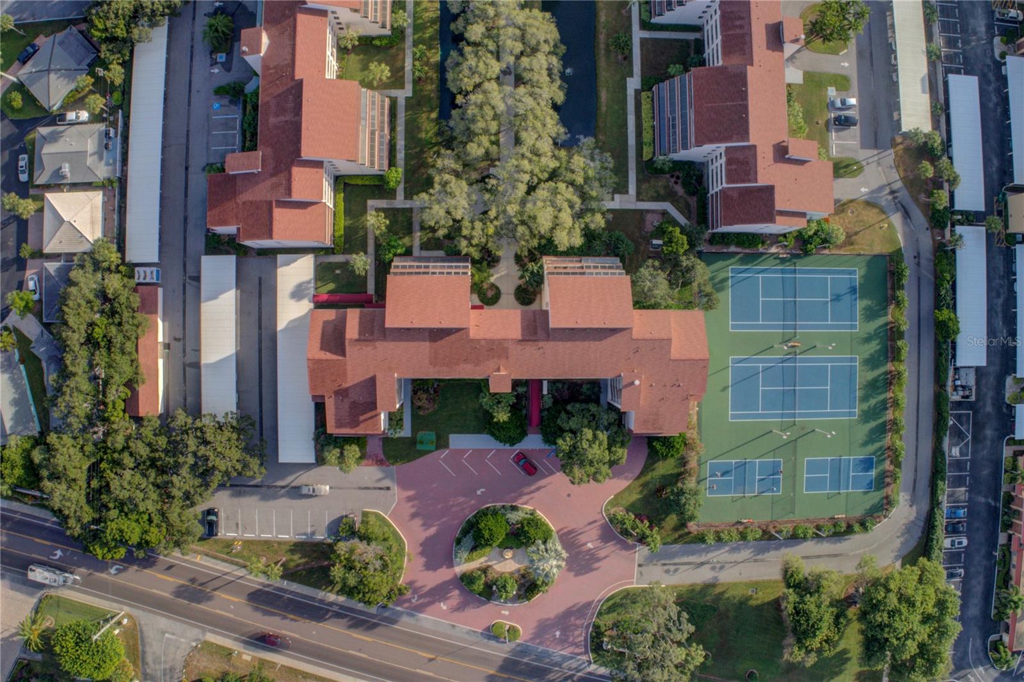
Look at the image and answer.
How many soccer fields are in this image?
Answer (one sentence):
The photo contains no soccer fields.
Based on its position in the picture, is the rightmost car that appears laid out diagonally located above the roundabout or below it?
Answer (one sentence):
Looking at the photo, you'll find the rightmost car that appears laid out diagonally above the roundabout.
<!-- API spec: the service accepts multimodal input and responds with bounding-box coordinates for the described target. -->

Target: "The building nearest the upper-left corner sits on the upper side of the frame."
[17,25,104,112]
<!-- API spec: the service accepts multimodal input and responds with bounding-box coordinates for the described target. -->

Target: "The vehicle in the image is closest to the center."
[512,451,538,477]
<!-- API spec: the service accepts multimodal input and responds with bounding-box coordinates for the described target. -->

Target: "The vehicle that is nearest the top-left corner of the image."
[12,38,38,66]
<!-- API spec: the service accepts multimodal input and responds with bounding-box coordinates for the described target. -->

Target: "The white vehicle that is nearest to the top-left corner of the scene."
[54,108,87,121]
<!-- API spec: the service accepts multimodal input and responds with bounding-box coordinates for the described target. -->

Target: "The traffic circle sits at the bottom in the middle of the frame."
[454,505,560,604]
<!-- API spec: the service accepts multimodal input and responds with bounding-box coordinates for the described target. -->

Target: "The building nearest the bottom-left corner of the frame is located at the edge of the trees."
[0,335,48,444]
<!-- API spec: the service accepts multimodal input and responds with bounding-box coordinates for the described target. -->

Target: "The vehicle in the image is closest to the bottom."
[258,633,287,650]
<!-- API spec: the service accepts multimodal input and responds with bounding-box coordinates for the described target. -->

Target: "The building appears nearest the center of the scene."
[307,257,709,436]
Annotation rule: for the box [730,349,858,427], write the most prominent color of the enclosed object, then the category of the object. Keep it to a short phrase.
blue tennis court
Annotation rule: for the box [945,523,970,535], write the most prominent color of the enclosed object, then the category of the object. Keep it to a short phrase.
black vehicle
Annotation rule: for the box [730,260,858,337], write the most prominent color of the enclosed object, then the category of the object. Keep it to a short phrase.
blue tennis court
